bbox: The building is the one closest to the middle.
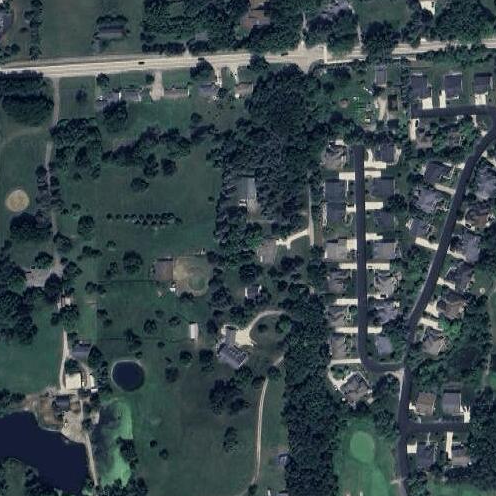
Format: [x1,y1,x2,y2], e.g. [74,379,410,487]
[257,239,276,264]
